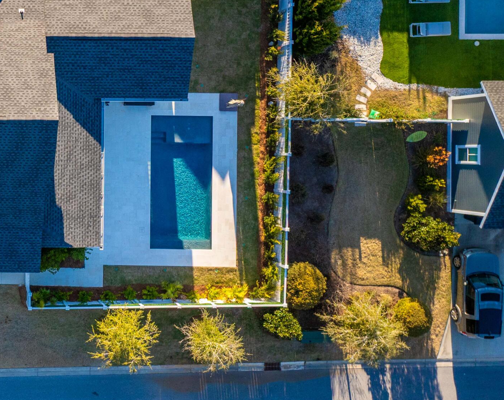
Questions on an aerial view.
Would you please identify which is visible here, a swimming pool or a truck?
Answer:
swimming pool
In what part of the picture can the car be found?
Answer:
bottom right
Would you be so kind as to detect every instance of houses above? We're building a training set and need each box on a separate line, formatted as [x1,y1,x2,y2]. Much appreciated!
[0,0,195,270]
[451,81,504,229]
